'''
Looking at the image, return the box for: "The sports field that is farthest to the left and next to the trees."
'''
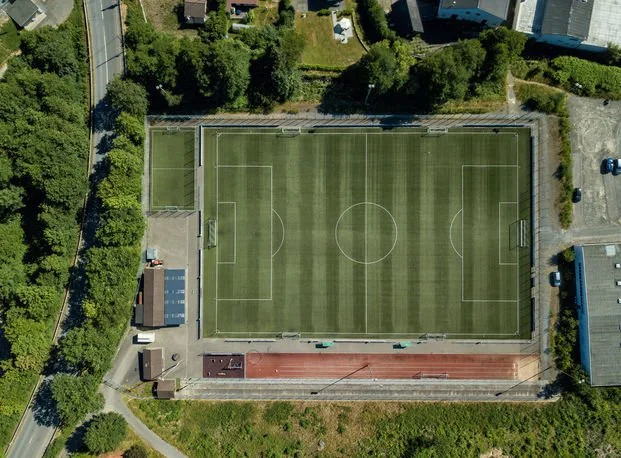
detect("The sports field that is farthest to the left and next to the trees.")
[151,129,195,209]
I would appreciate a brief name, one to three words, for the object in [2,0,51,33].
house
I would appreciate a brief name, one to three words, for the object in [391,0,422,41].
barn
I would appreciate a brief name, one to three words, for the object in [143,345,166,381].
house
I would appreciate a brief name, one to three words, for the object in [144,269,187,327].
building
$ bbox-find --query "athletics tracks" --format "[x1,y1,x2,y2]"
[246,352,519,379]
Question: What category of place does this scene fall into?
sports ground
